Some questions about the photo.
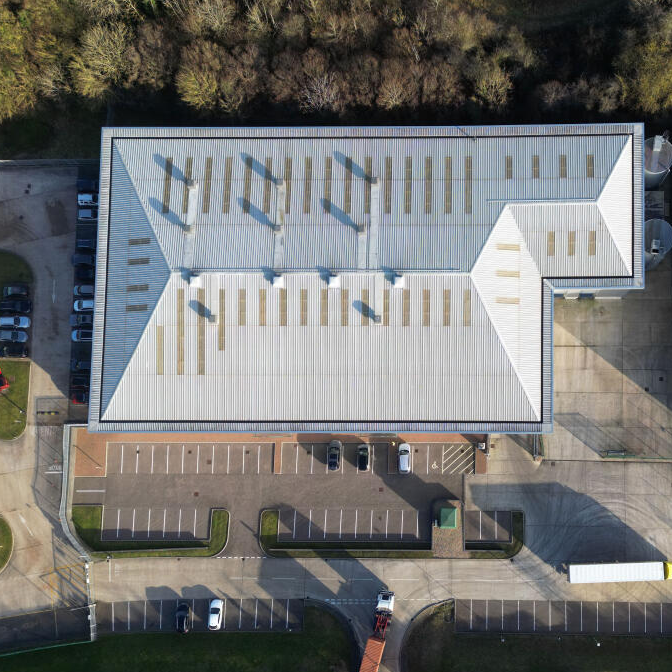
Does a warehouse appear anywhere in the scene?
Yes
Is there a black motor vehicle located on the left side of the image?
Yes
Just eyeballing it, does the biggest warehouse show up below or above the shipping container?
above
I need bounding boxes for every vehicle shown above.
[372,587,396,638]
[0,316,31,329]
[74,237,97,251]
[75,299,95,313]
[75,284,95,298]
[72,253,97,267]
[74,192,99,207]
[209,598,224,632]
[0,343,31,357]
[356,445,370,472]
[71,329,93,343]
[563,555,672,584]
[71,314,94,328]
[75,268,96,281]
[70,374,91,389]
[73,359,92,372]
[0,330,29,344]
[327,441,341,472]
[75,208,99,222]
[0,376,11,389]
[176,601,192,635]
[397,444,412,475]
[73,178,100,193]
[3,285,28,298]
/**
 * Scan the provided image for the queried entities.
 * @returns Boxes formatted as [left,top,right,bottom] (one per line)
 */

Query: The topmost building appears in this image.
[89,123,649,433]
